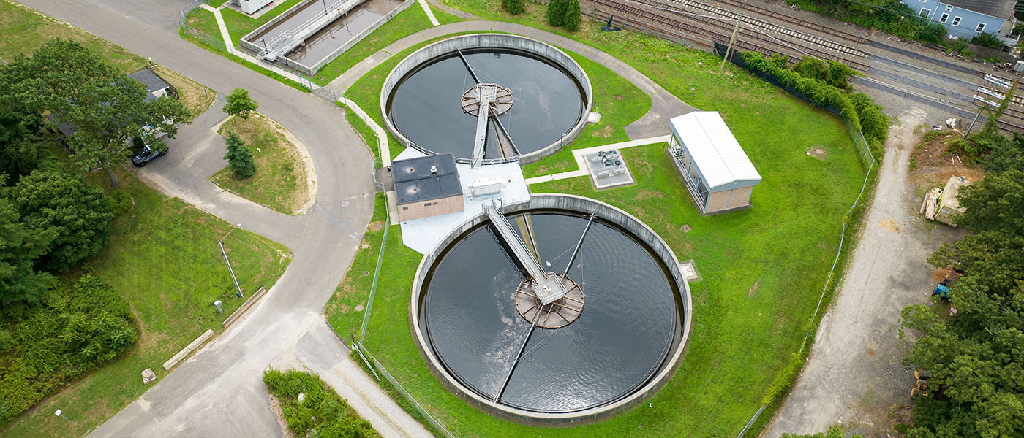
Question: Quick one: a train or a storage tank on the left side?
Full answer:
There is a storage tank on the left side.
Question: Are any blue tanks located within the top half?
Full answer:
No, no blue tank appears within the top half.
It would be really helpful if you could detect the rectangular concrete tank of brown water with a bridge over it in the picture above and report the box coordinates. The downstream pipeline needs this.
[242,0,416,75]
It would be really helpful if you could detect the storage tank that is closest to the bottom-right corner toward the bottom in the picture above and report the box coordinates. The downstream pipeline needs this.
[412,193,692,425]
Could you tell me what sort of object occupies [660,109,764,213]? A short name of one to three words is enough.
shed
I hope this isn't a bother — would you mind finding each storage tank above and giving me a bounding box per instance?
[380,33,592,167]
[242,0,416,75]
[412,193,692,425]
